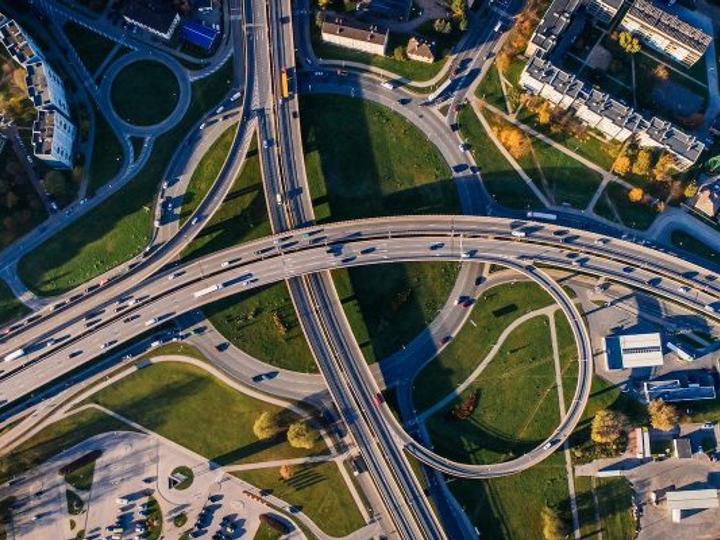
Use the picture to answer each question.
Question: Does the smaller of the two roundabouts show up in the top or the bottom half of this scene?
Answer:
top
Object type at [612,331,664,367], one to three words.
building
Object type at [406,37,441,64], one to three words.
house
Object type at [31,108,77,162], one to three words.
building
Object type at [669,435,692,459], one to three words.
house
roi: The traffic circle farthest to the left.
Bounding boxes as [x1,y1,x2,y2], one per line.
[98,49,191,139]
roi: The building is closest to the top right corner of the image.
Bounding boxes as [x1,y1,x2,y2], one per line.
[612,0,713,77]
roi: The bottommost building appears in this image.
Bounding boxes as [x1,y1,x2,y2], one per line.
[660,484,719,523]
